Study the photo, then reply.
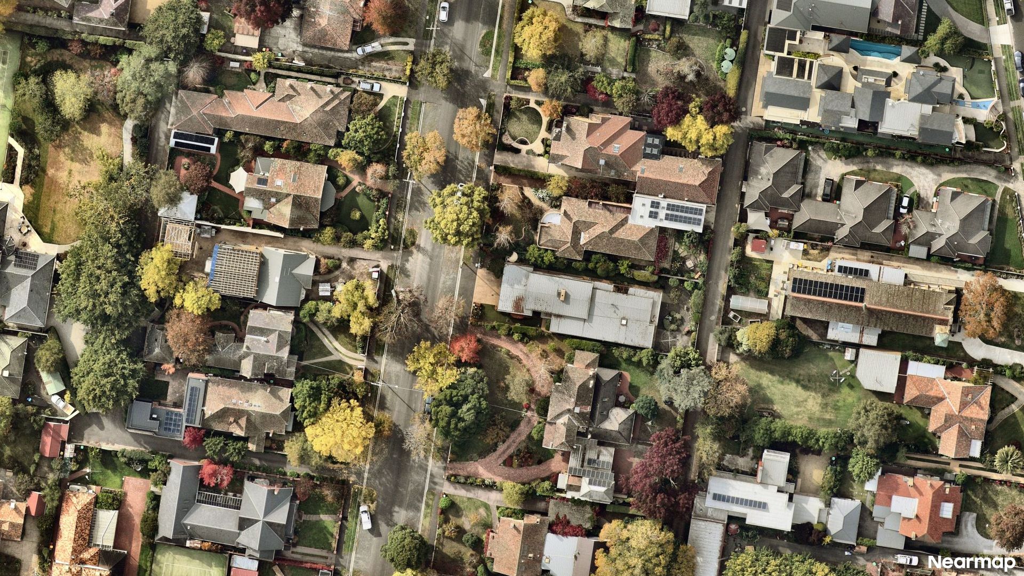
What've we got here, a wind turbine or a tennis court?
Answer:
tennis court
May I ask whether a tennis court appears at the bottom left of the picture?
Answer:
Yes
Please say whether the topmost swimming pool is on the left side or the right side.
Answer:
right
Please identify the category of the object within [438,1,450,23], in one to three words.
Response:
vehicle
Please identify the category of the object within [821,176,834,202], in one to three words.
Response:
vehicle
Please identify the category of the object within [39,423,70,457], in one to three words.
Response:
shed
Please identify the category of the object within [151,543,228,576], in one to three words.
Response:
tennis court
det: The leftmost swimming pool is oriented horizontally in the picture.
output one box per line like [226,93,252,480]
[850,39,901,60]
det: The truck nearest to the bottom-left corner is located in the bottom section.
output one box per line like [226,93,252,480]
[50,392,74,417]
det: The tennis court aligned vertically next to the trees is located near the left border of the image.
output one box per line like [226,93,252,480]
[0,29,22,182]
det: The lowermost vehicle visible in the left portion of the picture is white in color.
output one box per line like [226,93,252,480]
[358,504,371,530]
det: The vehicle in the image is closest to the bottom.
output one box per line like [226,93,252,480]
[891,553,918,565]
